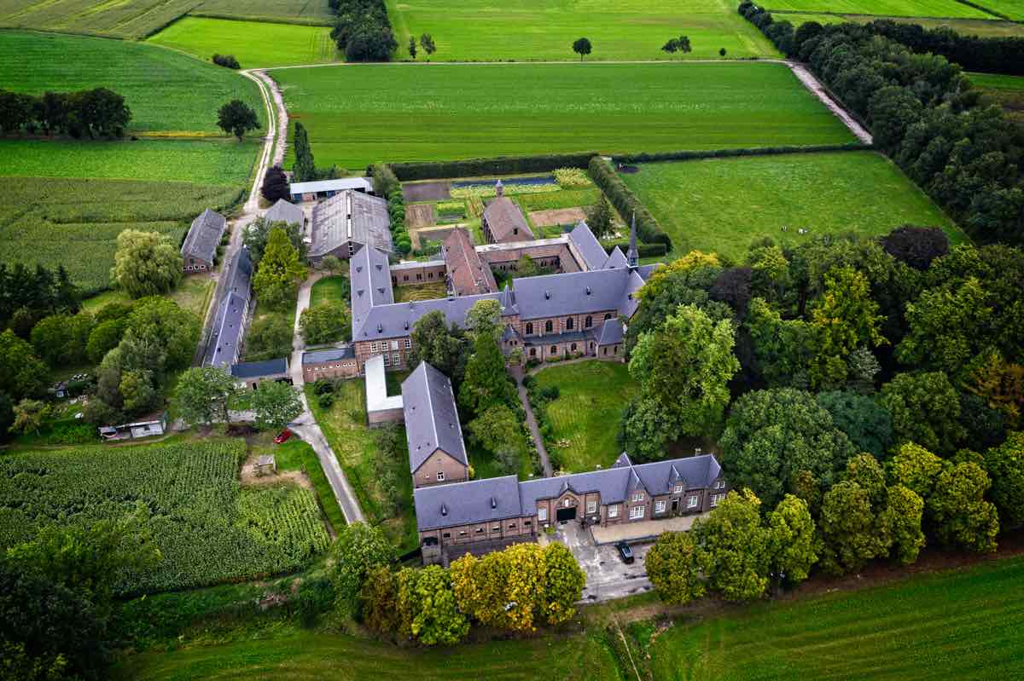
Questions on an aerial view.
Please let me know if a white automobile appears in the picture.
No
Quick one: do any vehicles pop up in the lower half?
Yes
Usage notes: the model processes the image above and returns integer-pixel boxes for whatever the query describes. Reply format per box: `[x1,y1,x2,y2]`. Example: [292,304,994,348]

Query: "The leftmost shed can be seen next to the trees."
[48,379,73,397]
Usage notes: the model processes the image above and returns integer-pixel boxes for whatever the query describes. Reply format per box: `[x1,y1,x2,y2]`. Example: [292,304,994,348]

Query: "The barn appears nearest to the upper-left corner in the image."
[180,209,229,275]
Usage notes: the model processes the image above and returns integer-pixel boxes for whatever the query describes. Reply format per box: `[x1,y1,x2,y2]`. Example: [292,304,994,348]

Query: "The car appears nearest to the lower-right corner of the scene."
[612,537,638,566]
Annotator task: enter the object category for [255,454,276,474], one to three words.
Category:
shed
